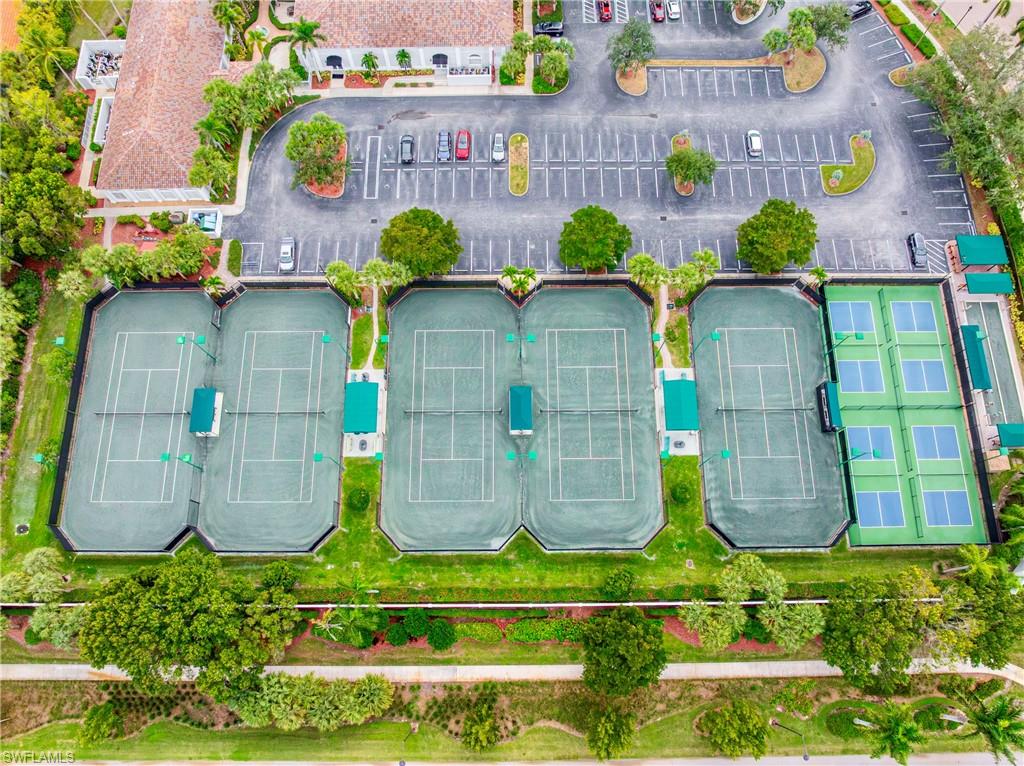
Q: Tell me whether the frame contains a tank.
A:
No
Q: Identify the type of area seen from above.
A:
sports ground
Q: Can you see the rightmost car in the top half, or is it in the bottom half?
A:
top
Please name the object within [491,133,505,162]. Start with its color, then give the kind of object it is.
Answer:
white car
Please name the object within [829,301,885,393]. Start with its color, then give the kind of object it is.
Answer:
blue sports court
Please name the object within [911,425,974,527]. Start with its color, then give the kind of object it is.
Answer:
blue sports court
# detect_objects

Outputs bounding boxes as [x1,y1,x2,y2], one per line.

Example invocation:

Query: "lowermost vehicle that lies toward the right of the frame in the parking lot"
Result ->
[906,234,929,268]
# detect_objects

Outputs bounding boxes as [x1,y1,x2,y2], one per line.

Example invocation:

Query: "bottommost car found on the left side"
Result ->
[279,238,296,270]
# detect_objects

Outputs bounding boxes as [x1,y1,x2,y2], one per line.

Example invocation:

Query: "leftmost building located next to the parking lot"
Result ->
[96,0,224,203]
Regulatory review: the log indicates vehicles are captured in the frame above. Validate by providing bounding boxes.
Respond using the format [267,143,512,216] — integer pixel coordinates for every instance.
[598,0,612,21]
[279,238,296,270]
[906,234,929,268]
[491,133,505,162]
[436,130,451,162]
[844,0,874,19]
[650,0,665,21]
[456,132,470,159]
[533,20,564,37]
[665,0,680,22]
[400,136,414,164]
